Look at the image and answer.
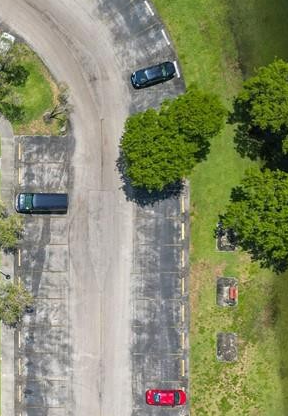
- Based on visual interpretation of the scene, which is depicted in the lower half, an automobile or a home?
automobile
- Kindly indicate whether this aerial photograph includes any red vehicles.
Yes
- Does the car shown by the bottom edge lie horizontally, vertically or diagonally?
horizontally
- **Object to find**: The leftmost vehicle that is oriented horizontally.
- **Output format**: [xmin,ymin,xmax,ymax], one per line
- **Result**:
[15,191,70,214]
